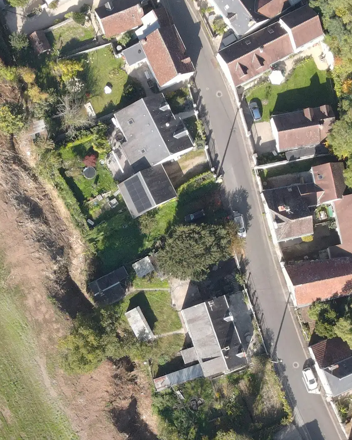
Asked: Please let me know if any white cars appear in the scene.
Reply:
Yes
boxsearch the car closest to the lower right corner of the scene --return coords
[300,365,318,393]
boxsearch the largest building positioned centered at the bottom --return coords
[178,296,249,378]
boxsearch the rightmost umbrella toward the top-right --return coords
[270,65,290,83]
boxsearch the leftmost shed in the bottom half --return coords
[89,266,133,305]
